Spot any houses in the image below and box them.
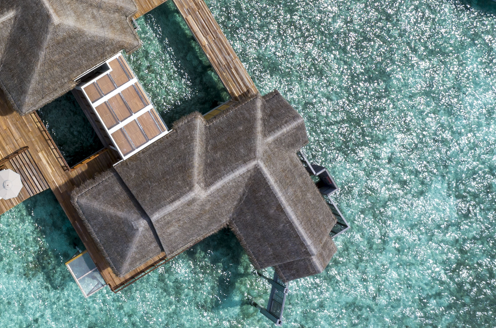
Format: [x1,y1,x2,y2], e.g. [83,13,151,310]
[0,0,142,117]
[73,90,339,283]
